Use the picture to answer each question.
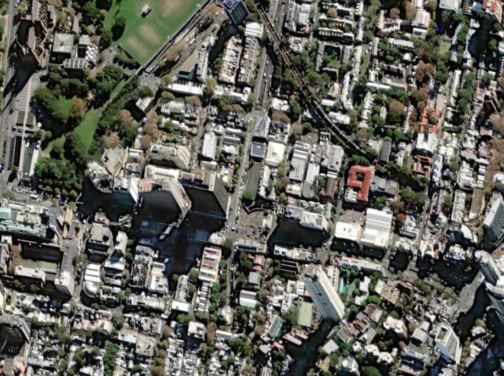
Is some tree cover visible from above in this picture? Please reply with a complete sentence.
Yes, the picture does contain tree cover.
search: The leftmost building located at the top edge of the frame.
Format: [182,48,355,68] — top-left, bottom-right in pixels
[22,2,57,67]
